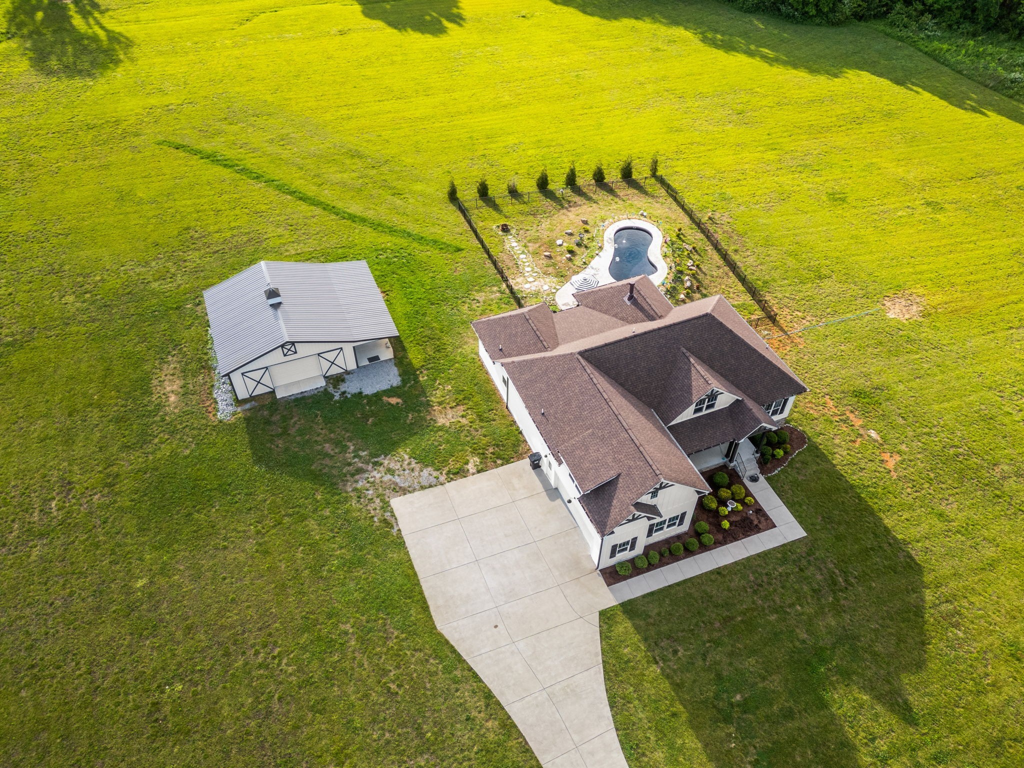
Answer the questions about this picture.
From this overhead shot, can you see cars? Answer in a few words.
No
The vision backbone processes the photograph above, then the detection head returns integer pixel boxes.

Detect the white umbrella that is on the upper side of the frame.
[570,273,599,290]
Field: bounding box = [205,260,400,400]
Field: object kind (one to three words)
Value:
barn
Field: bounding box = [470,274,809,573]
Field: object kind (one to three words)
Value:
house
